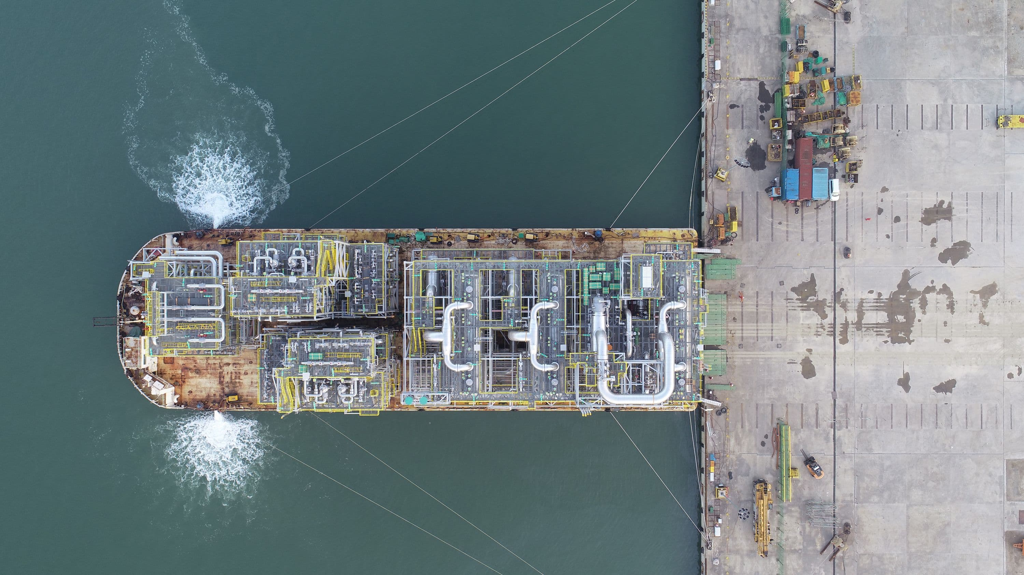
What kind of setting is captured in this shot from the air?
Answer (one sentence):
This looks like a port.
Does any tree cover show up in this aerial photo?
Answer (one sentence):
No, there is no tree cover in the image.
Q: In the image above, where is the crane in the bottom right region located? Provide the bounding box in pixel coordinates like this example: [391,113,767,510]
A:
[753,477,774,558]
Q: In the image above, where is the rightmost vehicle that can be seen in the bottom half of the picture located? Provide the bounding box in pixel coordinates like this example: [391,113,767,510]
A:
[800,449,825,479]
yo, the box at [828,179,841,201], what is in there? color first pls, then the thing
white vehicle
